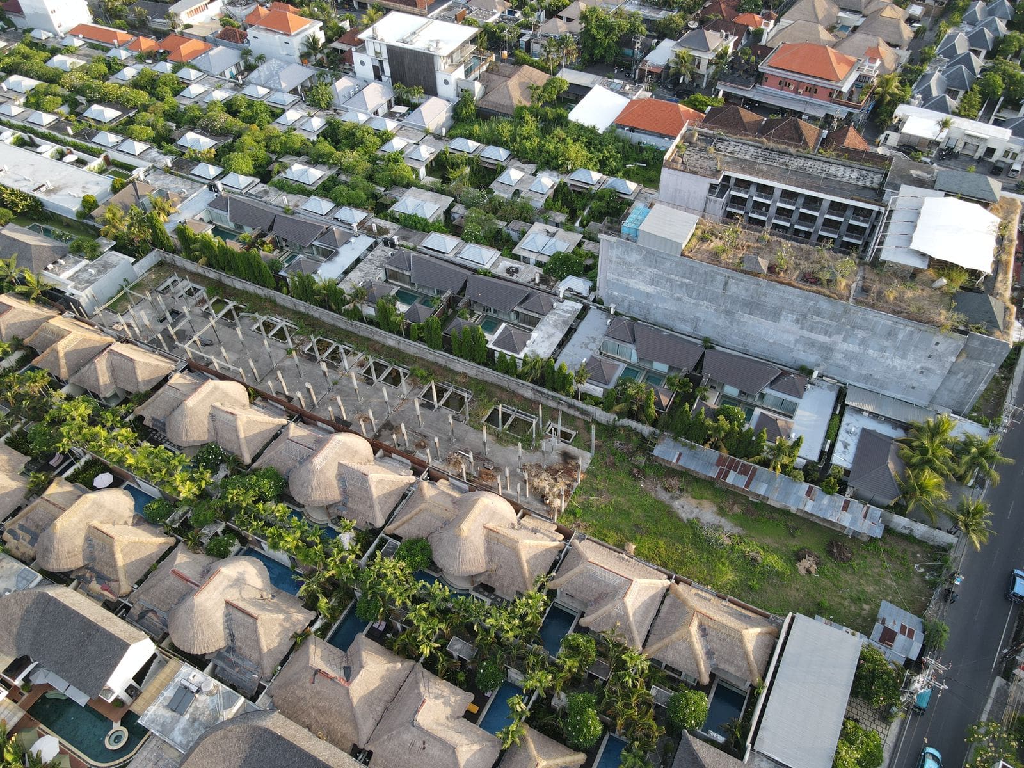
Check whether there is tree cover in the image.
Yes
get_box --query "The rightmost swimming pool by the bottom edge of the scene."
[701,679,752,744]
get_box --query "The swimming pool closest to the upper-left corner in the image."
[26,220,80,244]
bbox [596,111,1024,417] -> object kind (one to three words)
building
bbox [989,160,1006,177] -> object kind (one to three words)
car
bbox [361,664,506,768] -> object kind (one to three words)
house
